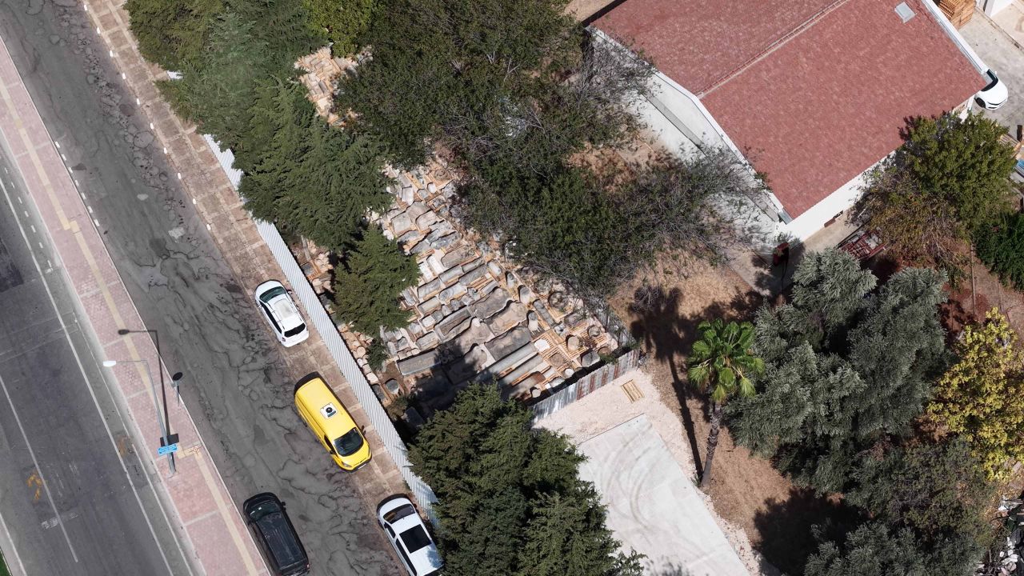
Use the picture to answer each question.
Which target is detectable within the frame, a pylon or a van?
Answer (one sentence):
The image shows a van.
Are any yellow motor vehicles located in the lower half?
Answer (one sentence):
Yes, there is a yellow motor vehicle in the lower half.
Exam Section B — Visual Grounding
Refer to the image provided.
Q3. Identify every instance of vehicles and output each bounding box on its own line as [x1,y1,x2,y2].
[295,374,367,470]
[255,283,310,349]
[245,498,313,576]
[973,52,1010,109]
[377,496,441,576]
